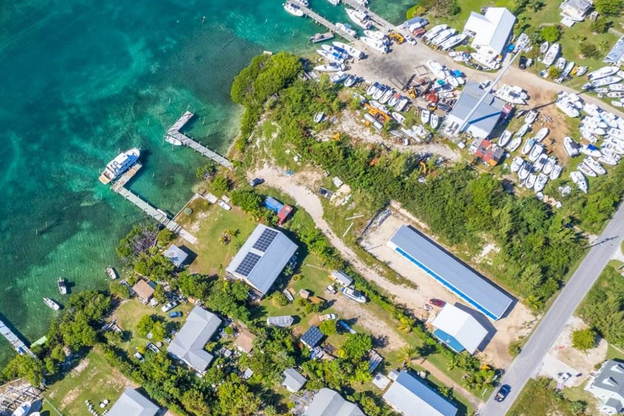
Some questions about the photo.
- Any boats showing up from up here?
Yes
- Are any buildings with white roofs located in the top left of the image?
No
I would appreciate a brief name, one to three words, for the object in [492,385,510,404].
car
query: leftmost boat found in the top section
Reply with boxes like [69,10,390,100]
[102,147,141,184]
